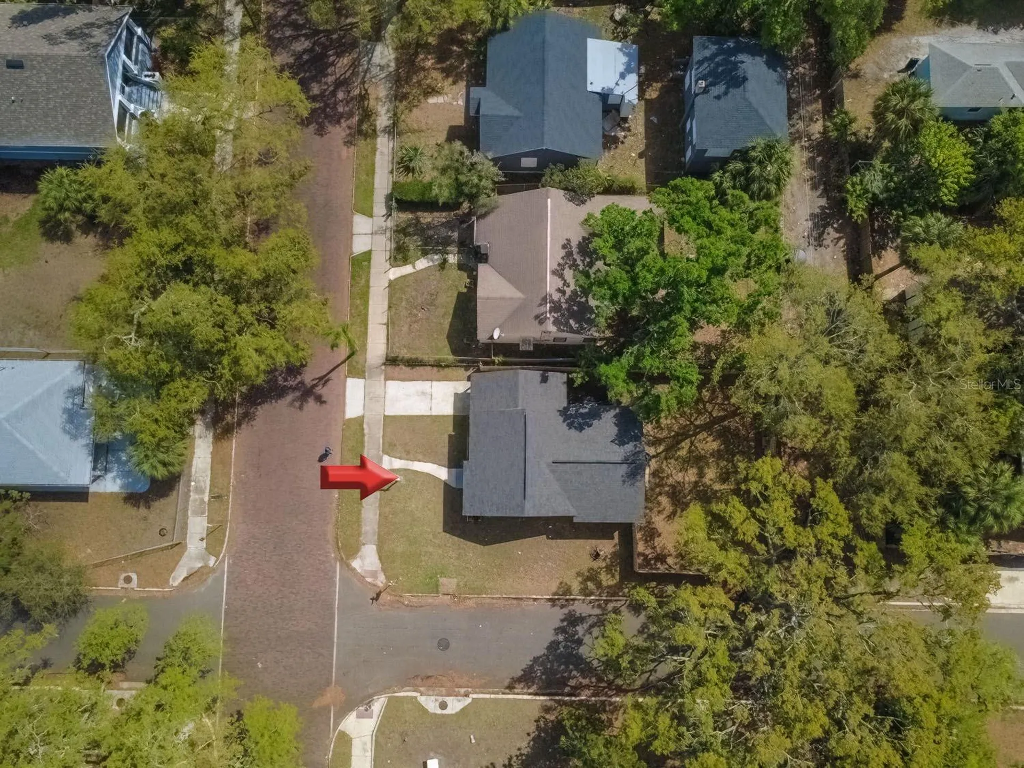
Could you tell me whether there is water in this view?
No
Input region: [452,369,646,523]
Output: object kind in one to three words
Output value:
house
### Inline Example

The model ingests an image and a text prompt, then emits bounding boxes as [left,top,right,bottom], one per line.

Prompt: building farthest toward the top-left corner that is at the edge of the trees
[0,4,176,161]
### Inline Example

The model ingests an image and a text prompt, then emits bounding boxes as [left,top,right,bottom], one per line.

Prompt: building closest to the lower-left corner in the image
[0,360,108,488]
